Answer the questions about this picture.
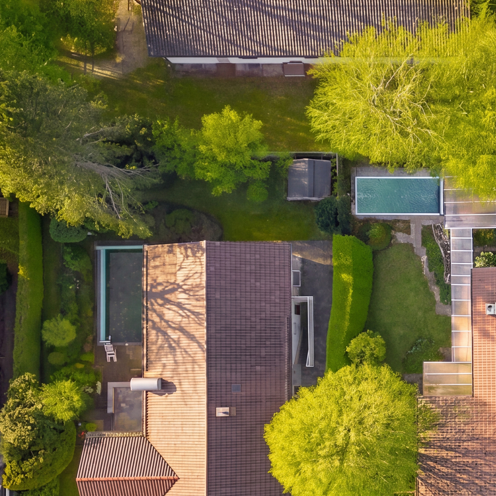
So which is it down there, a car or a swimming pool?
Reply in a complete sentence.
The image shows a swimming pool.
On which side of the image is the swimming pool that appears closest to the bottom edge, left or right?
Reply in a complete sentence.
It is on the left.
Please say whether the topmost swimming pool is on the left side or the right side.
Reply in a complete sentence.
The topmost swimming pool is on the right side of the image.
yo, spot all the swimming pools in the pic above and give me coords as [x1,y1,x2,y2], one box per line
[92,245,142,345]
[354,174,444,216]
